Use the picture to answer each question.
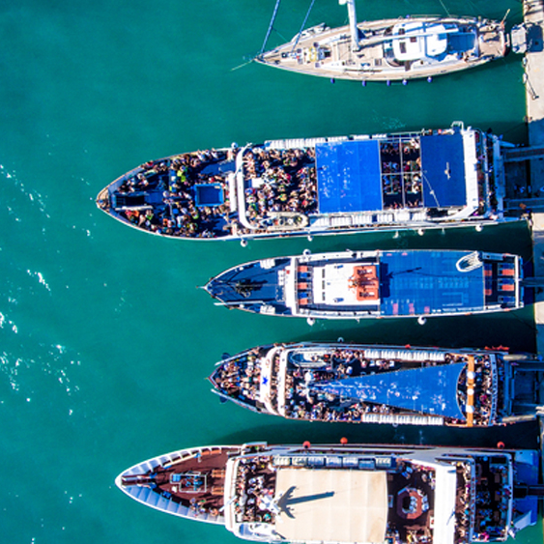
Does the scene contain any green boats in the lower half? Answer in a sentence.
No, in the lower half there is no green boat.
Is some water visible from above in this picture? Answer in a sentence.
Yes, water shows up in the scene.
